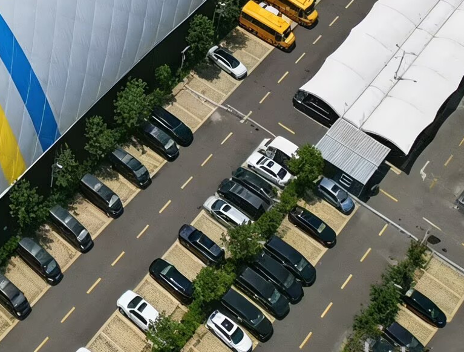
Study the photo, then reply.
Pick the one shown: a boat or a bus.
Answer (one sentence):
I can see a bus in this picture.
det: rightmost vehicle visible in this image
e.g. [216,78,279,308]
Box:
[399,288,450,332]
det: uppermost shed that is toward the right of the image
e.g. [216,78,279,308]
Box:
[316,117,391,196]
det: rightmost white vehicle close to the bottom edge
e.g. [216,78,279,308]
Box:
[202,307,255,352]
